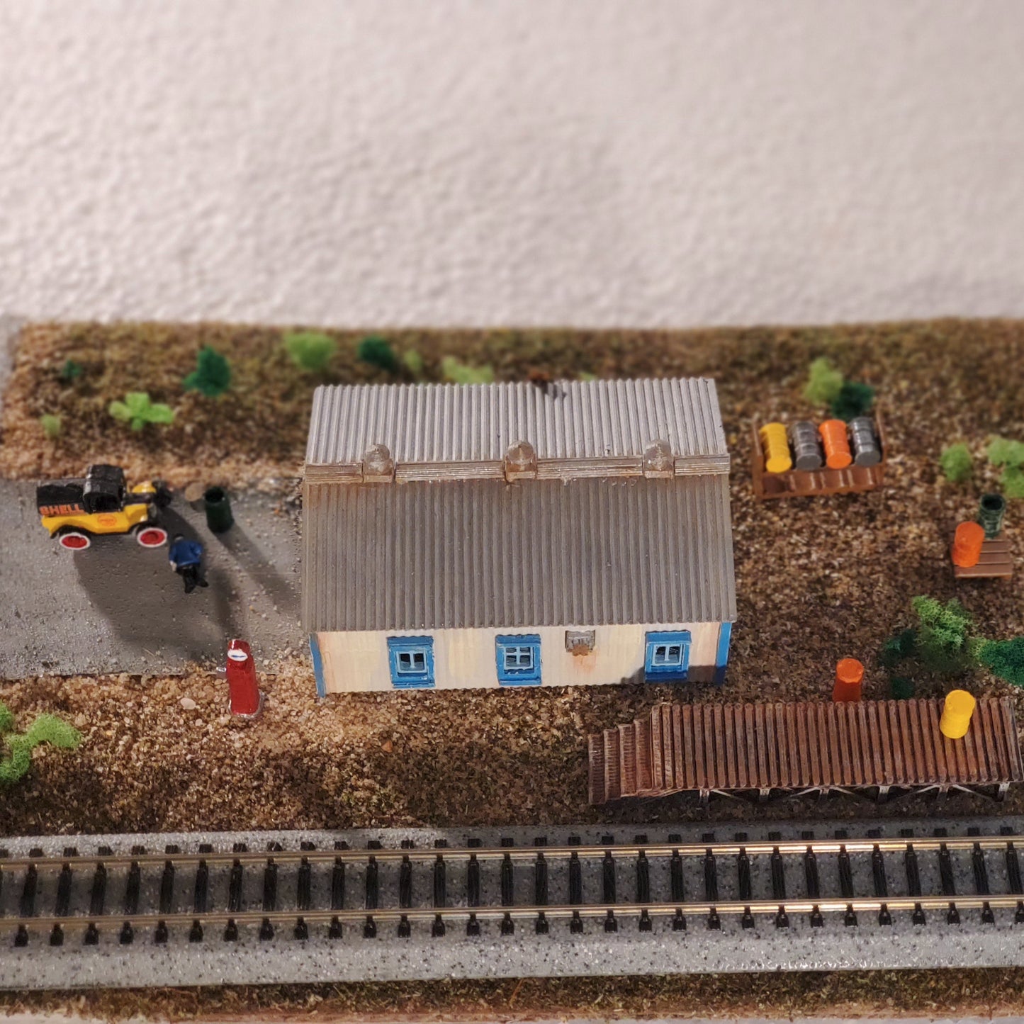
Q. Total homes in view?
1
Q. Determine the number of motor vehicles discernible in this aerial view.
one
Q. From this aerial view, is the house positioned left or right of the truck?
right of it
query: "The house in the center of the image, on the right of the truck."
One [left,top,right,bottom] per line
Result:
[298,363,738,701]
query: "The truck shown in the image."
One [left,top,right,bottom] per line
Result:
[37,465,172,550]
